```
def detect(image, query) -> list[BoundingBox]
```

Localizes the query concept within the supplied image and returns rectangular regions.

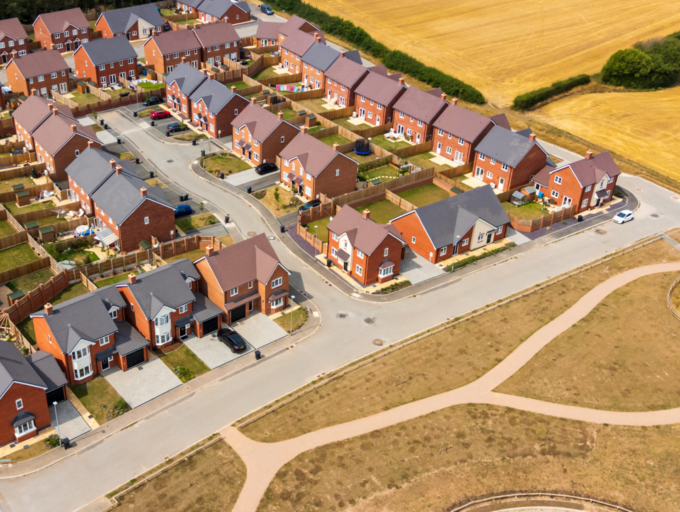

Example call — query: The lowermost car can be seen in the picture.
[217,330,247,356]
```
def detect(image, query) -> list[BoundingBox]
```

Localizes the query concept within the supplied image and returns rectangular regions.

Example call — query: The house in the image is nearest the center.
[326,205,410,285]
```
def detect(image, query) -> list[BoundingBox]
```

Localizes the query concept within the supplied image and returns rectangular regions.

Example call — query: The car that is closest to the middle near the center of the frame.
[298,198,322,212]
